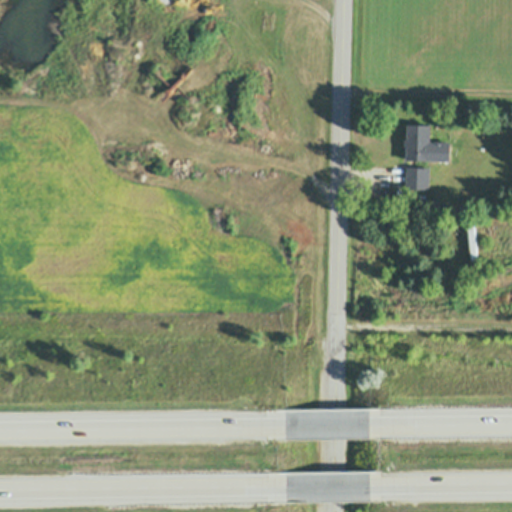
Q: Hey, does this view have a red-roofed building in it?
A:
No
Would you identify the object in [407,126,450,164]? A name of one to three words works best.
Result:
house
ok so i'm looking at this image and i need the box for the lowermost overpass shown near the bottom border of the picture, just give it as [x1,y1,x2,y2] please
[272,472,384,506]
